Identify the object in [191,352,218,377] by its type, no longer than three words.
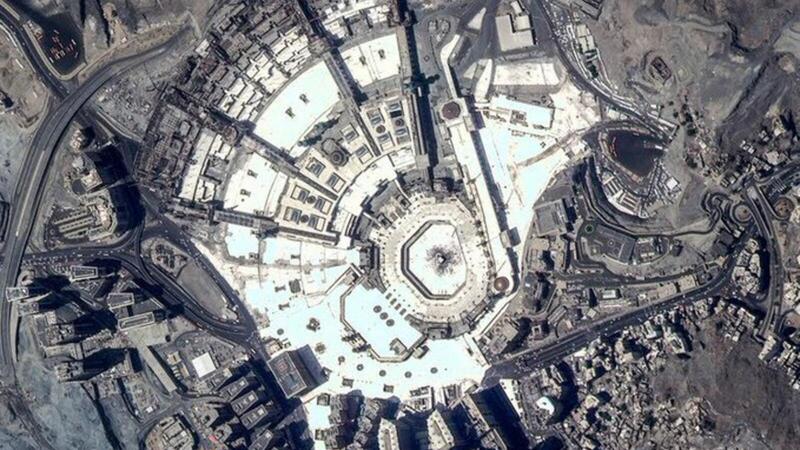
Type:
shed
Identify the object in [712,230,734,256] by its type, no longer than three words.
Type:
building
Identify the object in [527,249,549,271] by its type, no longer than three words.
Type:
building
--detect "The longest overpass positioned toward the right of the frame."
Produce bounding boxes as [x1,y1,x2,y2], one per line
[734,173,783,346]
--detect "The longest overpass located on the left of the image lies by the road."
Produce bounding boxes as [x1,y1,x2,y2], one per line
[1,55,134,393]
